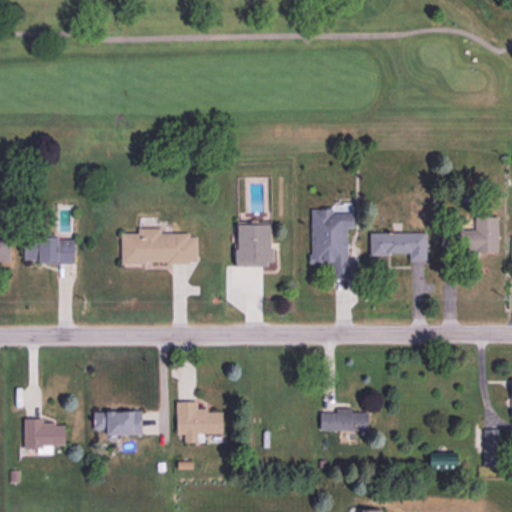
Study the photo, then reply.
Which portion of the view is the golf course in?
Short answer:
top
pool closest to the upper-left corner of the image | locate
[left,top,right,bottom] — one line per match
[60,210,72,232]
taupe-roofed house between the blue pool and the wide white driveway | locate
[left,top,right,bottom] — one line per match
[236,226,275,268]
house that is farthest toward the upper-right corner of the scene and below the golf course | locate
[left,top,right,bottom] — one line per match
[462,218,502,254]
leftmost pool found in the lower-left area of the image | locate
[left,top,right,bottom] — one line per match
[122,441,137,453]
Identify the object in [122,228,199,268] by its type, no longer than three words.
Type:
house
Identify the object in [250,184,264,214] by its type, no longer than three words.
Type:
swimming pool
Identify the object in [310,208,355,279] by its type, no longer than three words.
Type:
house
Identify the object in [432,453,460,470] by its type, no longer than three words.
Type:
barn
